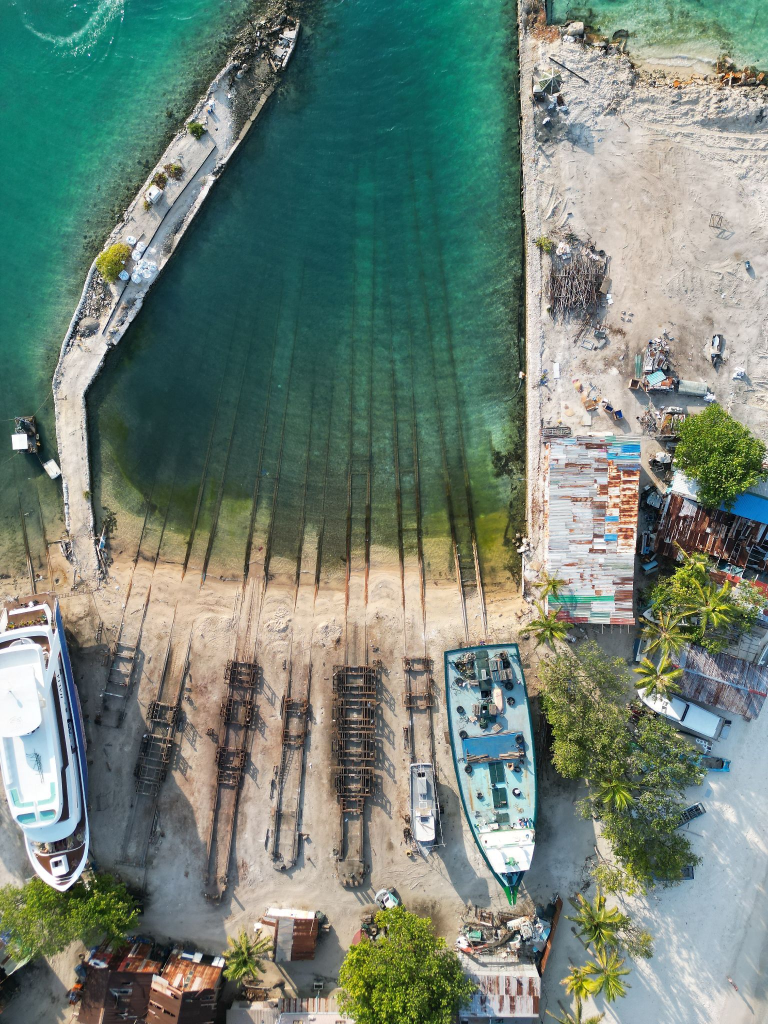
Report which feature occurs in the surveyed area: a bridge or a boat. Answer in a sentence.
It is a boat that can be seen here.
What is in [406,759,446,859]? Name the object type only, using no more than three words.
boat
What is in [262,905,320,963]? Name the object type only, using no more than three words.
shed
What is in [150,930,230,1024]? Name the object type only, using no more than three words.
house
